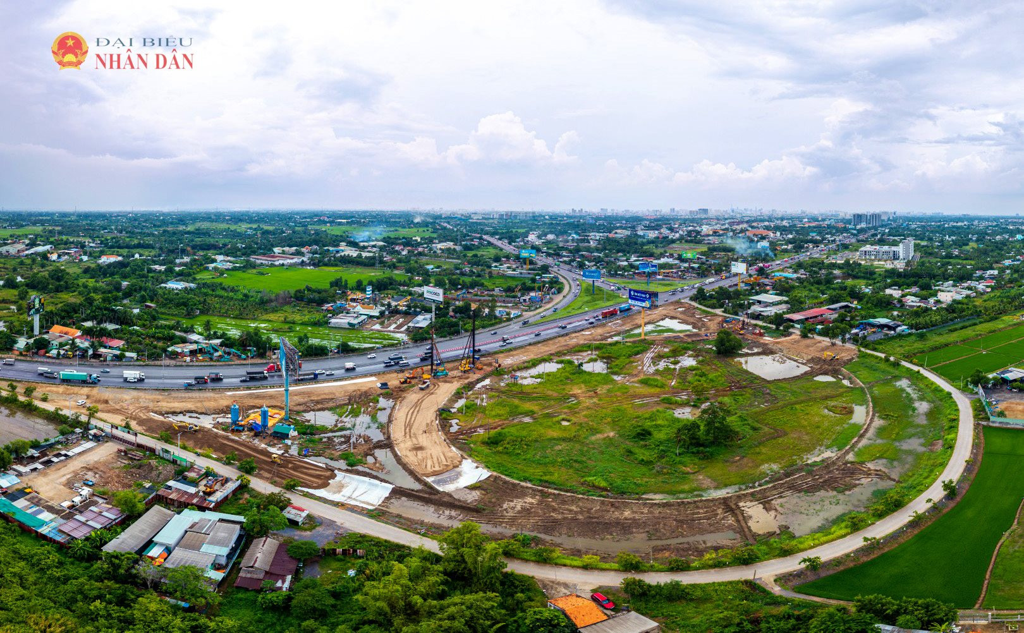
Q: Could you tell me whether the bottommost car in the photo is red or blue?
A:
red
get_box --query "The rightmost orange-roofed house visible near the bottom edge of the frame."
[553,593,608,633]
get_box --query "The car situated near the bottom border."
[591,586,617,606]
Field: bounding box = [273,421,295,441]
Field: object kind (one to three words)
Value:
building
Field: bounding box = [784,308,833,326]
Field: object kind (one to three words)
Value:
building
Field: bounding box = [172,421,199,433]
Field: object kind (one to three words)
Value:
vehicle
